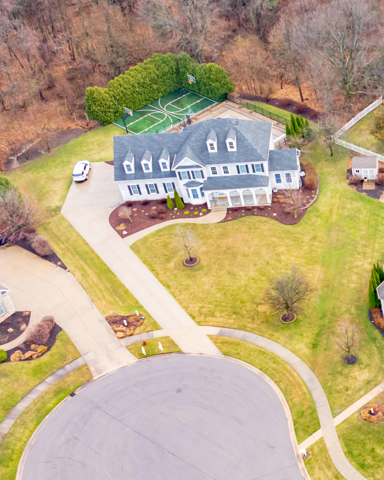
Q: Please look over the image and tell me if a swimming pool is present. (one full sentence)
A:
No, the picture doesn't show any swimming pool.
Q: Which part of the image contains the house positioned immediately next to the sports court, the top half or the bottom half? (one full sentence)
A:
The top half of the photo is where the house positioned immediately next to the sports court is.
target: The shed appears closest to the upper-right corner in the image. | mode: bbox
[351,155,383,185]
